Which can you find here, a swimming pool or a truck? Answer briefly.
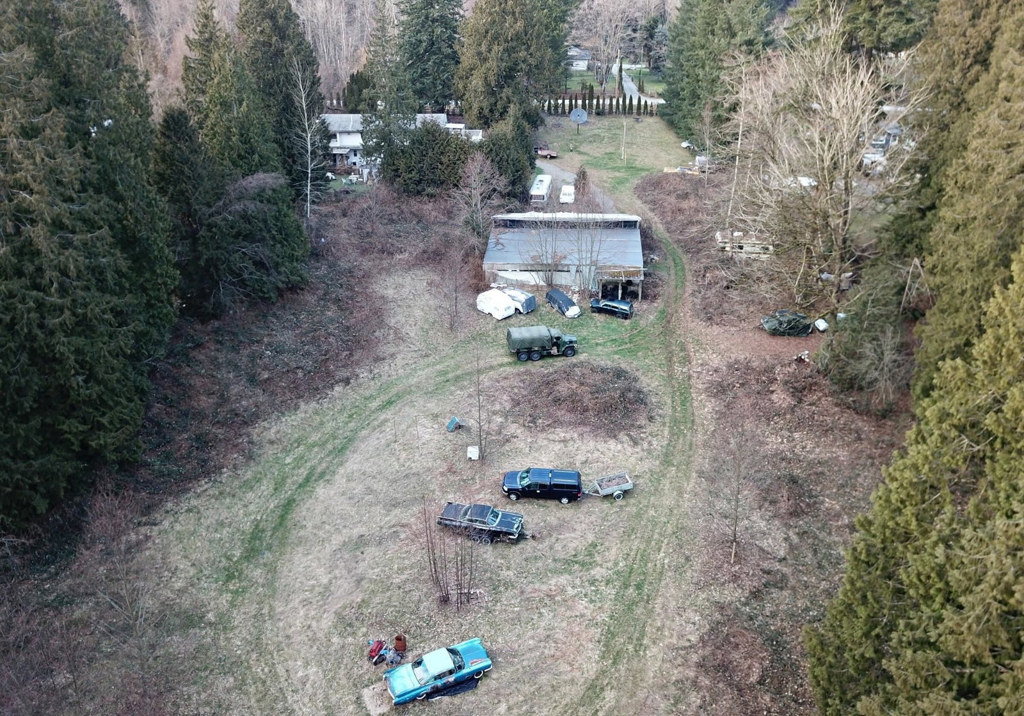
truck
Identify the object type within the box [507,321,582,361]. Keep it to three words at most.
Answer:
truck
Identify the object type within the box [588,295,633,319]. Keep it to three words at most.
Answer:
car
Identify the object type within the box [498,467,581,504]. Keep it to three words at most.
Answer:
truck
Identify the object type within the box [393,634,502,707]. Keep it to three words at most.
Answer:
car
